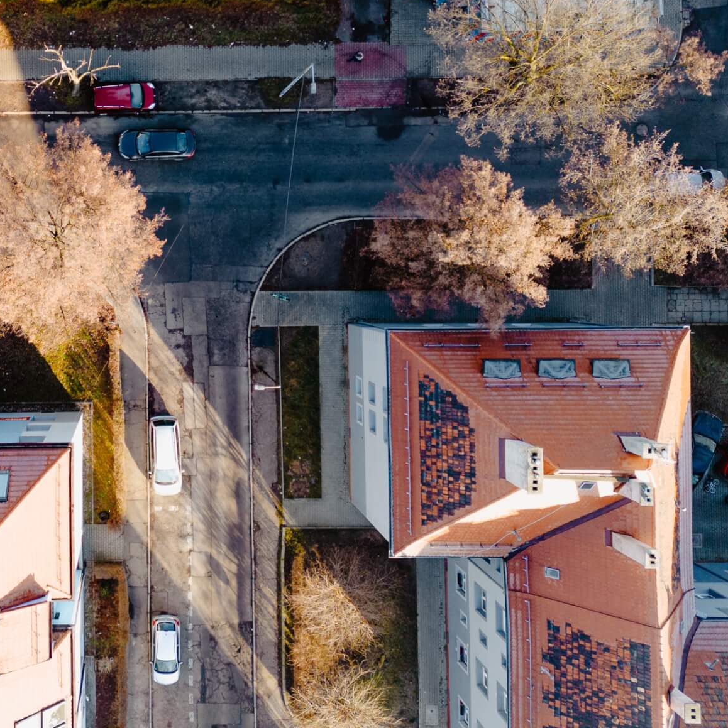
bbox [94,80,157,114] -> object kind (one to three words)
car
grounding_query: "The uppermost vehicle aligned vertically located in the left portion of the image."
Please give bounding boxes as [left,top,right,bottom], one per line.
[150,413,185,494]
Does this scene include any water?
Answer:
No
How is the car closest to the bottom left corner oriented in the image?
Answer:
vertically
